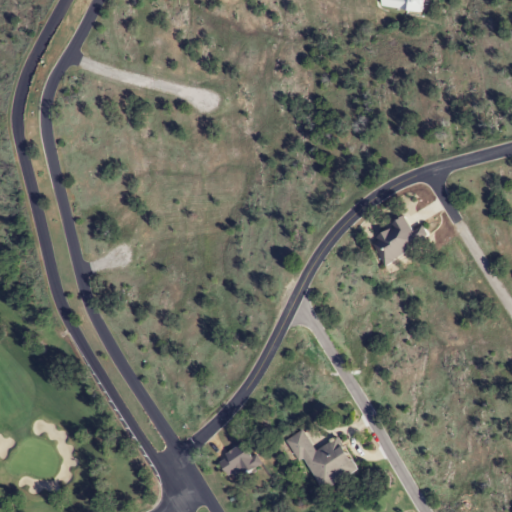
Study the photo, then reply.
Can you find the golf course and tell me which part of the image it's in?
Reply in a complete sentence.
Look in the bottom left portion of the view to spot the golf course.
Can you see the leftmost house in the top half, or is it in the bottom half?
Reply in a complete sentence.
You can find the leftmost house in the bottom half.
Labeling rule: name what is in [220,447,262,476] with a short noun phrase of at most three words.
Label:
house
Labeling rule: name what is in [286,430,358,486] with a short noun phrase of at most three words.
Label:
house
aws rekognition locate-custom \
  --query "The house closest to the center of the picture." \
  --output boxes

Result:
[377,215,430,265]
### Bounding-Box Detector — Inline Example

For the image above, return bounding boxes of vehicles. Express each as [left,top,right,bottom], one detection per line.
[372,432,380,442]
[210,442,218,452]
[354,445,364,456]
[350,438,356,447]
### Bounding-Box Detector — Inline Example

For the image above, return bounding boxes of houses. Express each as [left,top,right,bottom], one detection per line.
[380,0,424,12]
[286,430,358,486]
[220,447,262,476]
[377,215,430,265]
